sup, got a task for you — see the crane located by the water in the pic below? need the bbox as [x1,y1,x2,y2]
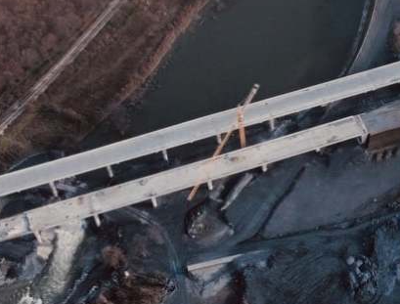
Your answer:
[187,79,251,197]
